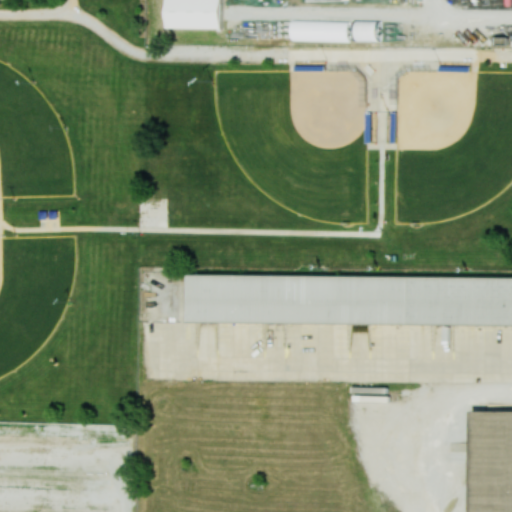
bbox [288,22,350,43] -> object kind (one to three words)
greenhouse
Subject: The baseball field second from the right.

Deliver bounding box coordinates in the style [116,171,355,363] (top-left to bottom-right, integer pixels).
[214,70,368,226]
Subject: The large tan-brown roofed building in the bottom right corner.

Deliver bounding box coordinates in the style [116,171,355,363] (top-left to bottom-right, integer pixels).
[462,411,512,512]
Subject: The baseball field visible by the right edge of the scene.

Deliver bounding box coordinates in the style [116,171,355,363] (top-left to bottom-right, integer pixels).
[396,71,512,225]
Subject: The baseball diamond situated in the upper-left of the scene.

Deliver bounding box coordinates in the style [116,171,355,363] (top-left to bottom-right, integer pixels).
[0,60,76,198]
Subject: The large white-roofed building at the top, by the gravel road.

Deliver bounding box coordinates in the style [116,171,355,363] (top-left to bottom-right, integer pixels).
[162,0,223,31]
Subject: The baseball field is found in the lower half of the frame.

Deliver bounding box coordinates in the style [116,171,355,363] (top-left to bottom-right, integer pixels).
[0,236,78,380]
